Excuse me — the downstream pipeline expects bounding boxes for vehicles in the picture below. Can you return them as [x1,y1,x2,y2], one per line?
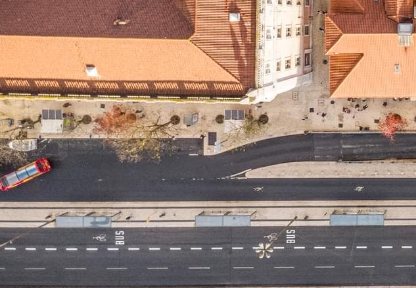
[3,140,34,153]
[0,156,51,193]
